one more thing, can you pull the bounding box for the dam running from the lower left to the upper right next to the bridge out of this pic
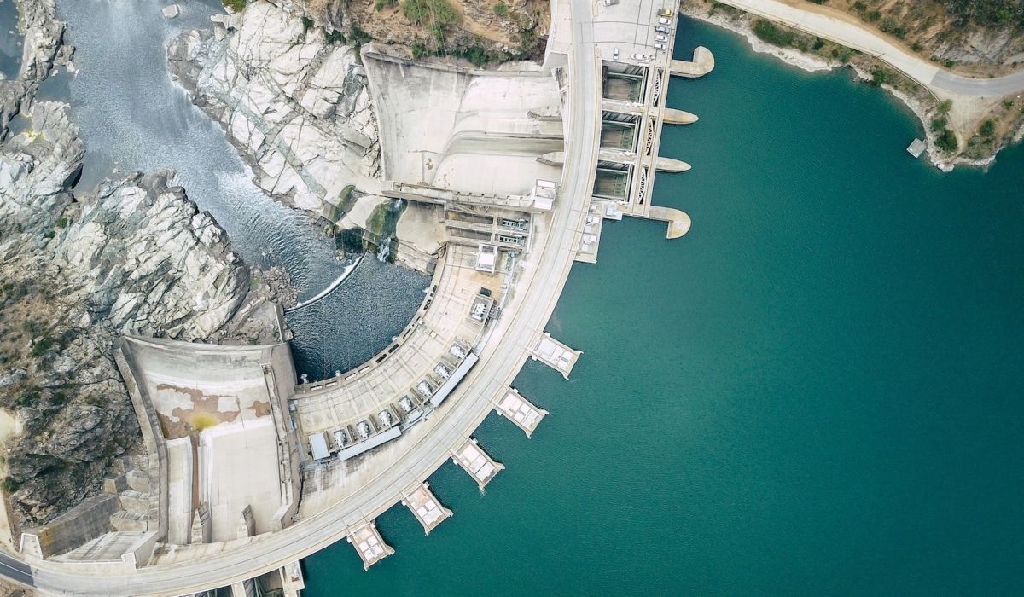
[30,0,603,597]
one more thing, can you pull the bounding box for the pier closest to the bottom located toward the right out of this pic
[590,198,691,239]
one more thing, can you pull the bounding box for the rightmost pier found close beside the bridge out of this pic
[661,46,714,79]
